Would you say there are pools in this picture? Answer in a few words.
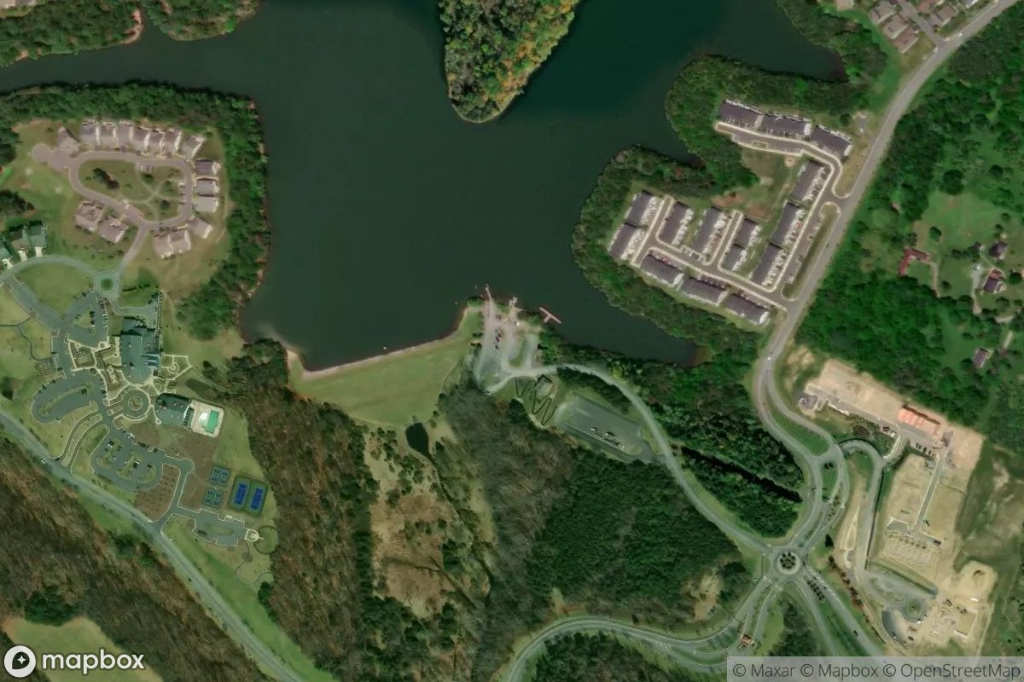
Yes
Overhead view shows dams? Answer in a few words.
Yes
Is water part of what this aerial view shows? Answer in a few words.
Yes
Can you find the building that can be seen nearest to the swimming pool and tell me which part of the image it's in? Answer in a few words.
left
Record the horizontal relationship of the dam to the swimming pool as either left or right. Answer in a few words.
on the right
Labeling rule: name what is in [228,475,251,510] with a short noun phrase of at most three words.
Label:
tennis court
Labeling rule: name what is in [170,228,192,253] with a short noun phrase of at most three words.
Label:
house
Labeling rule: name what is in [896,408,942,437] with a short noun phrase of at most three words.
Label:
building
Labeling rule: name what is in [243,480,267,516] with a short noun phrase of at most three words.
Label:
tennis court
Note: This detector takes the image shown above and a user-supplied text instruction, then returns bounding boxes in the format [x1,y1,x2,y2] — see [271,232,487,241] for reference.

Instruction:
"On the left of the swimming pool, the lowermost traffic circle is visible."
[119,390,147,418]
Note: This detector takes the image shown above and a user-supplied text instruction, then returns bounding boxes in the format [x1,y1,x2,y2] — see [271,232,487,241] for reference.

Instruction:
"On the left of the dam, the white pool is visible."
[192,400,224,437]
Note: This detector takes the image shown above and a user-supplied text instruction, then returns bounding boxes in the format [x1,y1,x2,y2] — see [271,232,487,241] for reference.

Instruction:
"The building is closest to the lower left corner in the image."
[157,394,196,427]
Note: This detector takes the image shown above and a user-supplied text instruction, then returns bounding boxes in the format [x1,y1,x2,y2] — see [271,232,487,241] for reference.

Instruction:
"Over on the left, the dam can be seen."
[299,310,477,425]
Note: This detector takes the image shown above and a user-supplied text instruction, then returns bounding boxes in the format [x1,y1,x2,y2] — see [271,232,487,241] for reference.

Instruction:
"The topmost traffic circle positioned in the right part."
[768,545,806,582]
